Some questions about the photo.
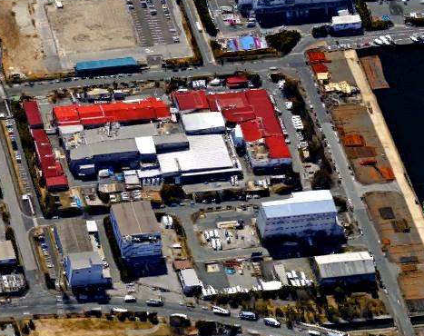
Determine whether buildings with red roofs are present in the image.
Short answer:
Yes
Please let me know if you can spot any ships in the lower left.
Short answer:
No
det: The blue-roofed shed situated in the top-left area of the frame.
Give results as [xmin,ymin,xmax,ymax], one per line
[74,56,140,74]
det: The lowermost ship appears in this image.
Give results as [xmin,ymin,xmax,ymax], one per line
[360,56,390,89]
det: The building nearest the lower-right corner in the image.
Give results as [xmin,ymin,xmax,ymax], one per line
[314,251,376,286]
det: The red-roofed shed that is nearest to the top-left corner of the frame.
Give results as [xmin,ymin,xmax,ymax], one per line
[22,100,44,131]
